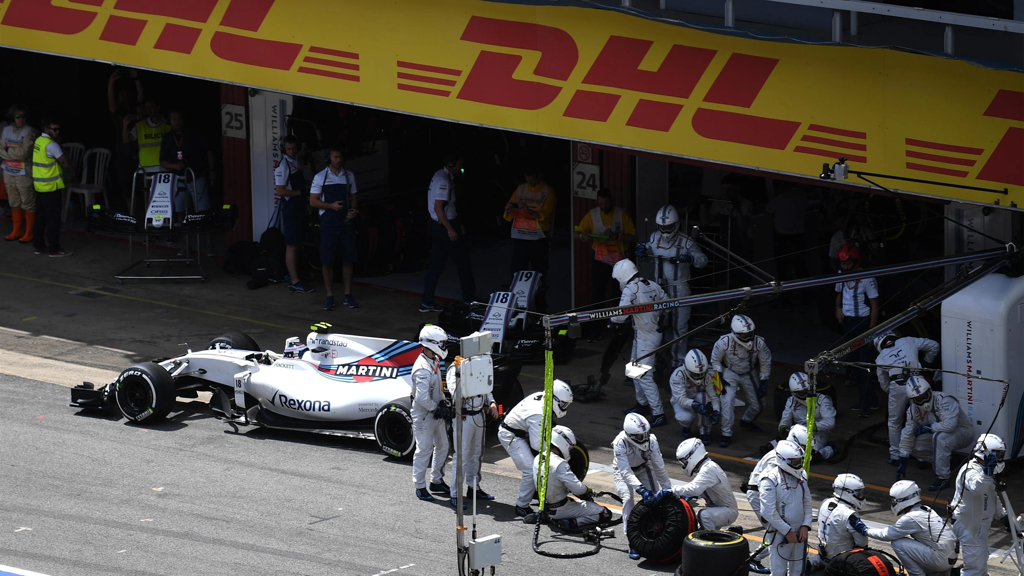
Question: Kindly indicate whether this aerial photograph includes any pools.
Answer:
No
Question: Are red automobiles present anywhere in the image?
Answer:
No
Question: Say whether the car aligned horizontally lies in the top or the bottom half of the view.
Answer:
bottom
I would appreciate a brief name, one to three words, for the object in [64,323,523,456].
car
